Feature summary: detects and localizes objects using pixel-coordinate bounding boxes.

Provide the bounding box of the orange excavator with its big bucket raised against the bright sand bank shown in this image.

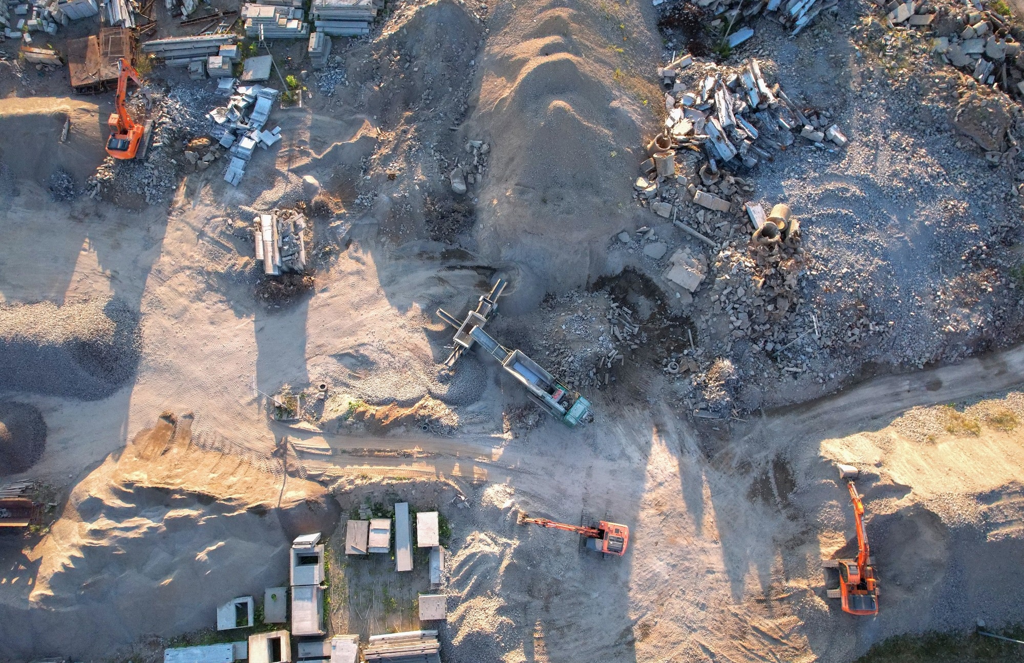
[821,473,883,612]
